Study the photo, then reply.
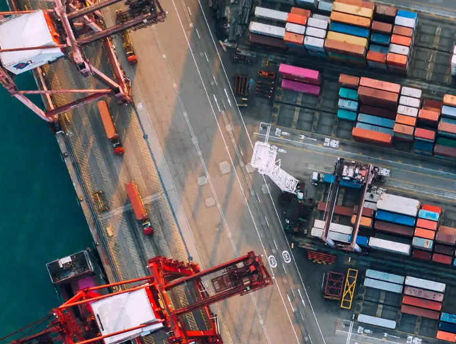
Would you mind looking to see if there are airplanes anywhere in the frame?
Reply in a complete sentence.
No, the frame has no airplane in it.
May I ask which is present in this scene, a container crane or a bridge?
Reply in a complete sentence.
The one in the frame is a container crane.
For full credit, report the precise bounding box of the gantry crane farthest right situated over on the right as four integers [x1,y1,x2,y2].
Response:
[325,153,382,252]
